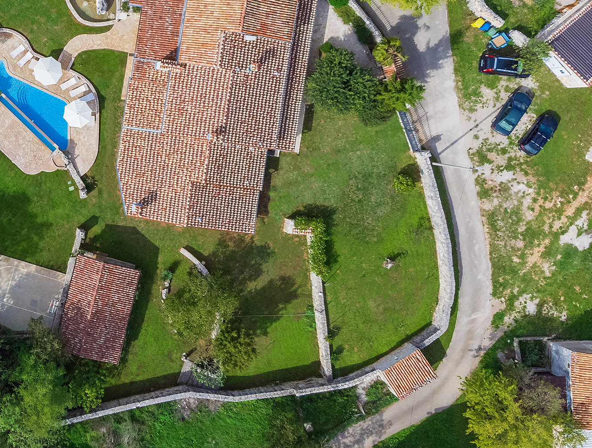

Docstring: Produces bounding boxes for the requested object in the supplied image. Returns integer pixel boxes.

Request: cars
[490,88,528,136]
[475,54,528,78]
[517,110,554,158]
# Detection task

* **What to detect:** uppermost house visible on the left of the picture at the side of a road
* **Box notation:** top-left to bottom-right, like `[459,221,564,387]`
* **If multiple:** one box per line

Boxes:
[115,0,320,236]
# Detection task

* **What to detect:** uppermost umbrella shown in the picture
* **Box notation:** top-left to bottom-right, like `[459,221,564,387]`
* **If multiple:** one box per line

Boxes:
[33,57,62,86]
